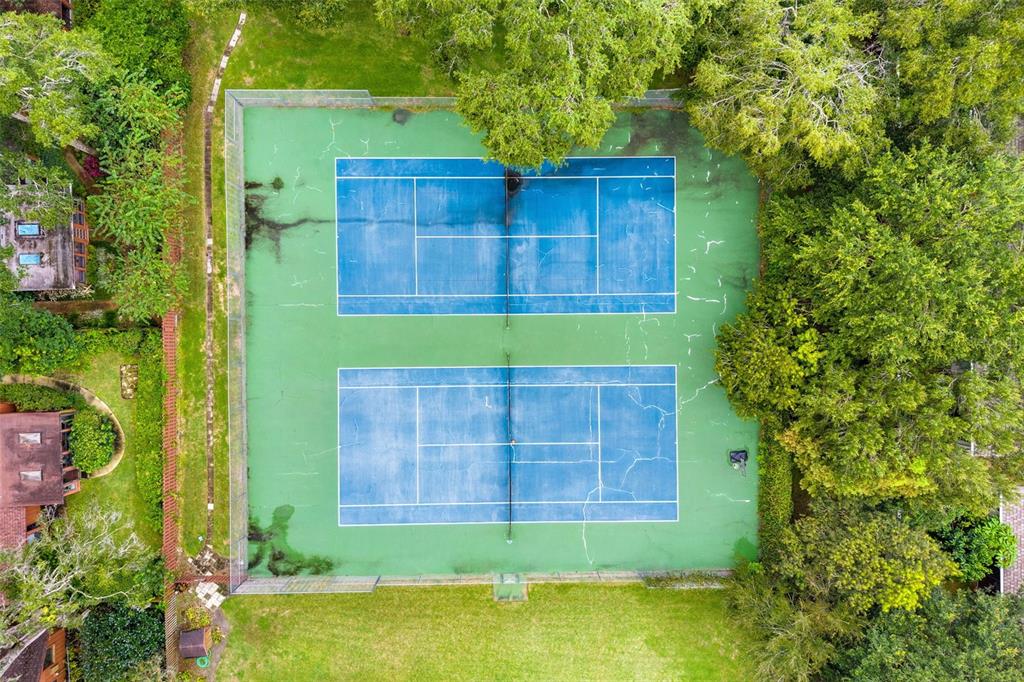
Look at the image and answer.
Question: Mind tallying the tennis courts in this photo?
two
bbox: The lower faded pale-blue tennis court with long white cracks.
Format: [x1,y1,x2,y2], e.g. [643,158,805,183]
[337,365,679,526]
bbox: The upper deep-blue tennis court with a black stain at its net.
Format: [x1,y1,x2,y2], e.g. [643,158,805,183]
[336,156,678,316]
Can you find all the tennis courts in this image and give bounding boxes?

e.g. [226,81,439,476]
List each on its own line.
[337,365,679,526]
[336,156,678,316]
